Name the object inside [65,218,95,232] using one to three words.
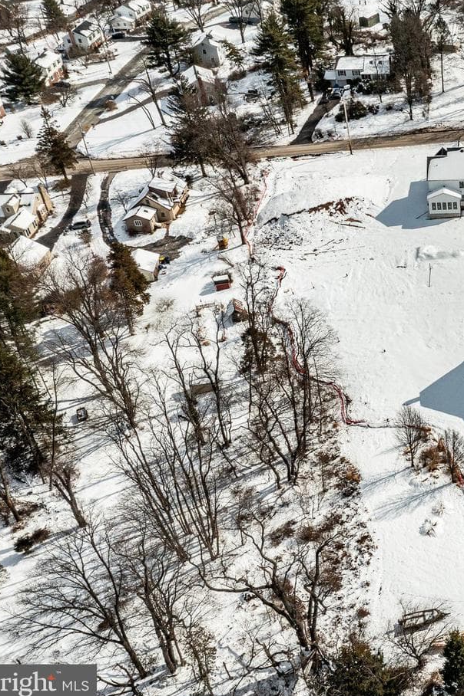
car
